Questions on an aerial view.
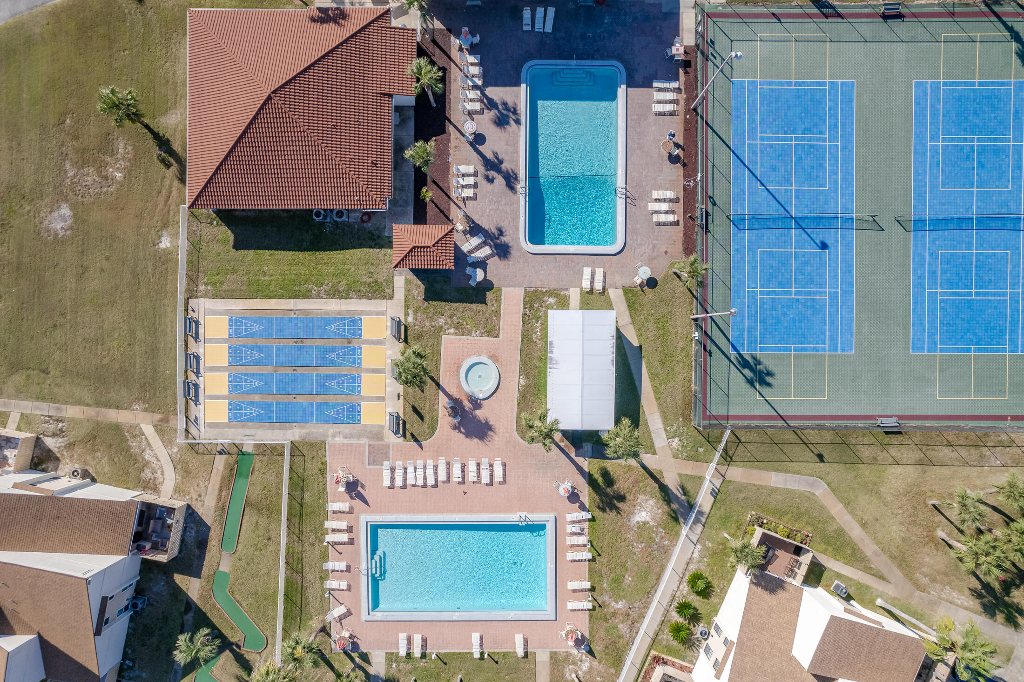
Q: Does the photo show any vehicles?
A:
No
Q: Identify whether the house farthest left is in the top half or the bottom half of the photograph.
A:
bottom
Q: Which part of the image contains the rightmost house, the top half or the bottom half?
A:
bottom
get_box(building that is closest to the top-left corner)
[186,5,417,210]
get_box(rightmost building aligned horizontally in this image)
[689,570,930,682]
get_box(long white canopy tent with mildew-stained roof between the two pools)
[547,310,616,430]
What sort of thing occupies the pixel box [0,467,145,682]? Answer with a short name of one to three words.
house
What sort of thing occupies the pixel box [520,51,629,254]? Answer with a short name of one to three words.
swimming pool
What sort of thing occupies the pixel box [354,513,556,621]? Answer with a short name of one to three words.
swimming pool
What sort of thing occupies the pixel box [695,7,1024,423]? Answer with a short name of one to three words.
sports court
